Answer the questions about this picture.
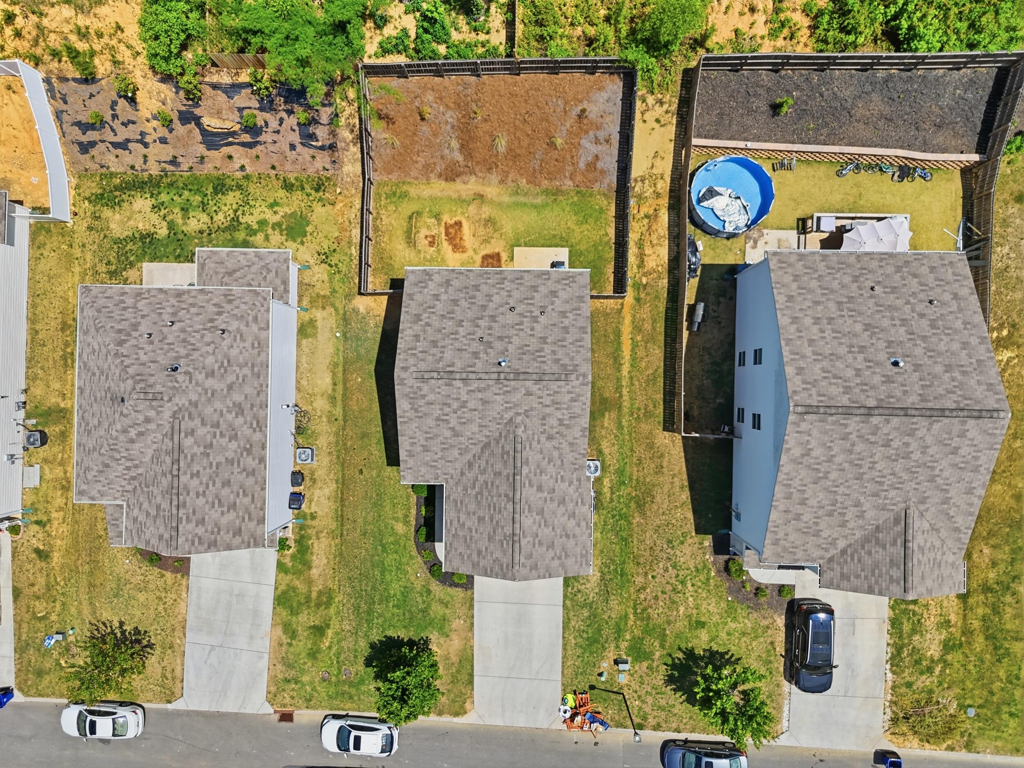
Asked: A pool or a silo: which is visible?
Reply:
pool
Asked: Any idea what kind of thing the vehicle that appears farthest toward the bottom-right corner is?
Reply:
car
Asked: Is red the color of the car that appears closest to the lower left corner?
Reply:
No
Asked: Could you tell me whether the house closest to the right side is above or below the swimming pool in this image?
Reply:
below it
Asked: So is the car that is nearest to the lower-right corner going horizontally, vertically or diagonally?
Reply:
vertically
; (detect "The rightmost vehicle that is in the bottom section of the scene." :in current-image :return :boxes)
[791,596,840,691]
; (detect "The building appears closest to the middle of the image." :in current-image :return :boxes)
[394,267,595,581]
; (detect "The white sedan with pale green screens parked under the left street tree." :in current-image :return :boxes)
[62,701,148,745]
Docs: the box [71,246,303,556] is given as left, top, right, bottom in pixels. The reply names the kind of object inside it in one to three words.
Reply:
house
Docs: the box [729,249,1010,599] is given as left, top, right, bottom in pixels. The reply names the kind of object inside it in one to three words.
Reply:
house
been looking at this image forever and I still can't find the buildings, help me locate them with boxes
[729,249,1010,599]
[71,246,303,556]
[394,267,595,581]
[0,188,30,545]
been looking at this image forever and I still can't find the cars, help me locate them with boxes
[62,701,148,745]
[791,596,840,691]
[321,713,400,760]
[661,739,748,768]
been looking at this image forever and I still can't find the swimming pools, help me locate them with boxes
[688,153,775,241]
